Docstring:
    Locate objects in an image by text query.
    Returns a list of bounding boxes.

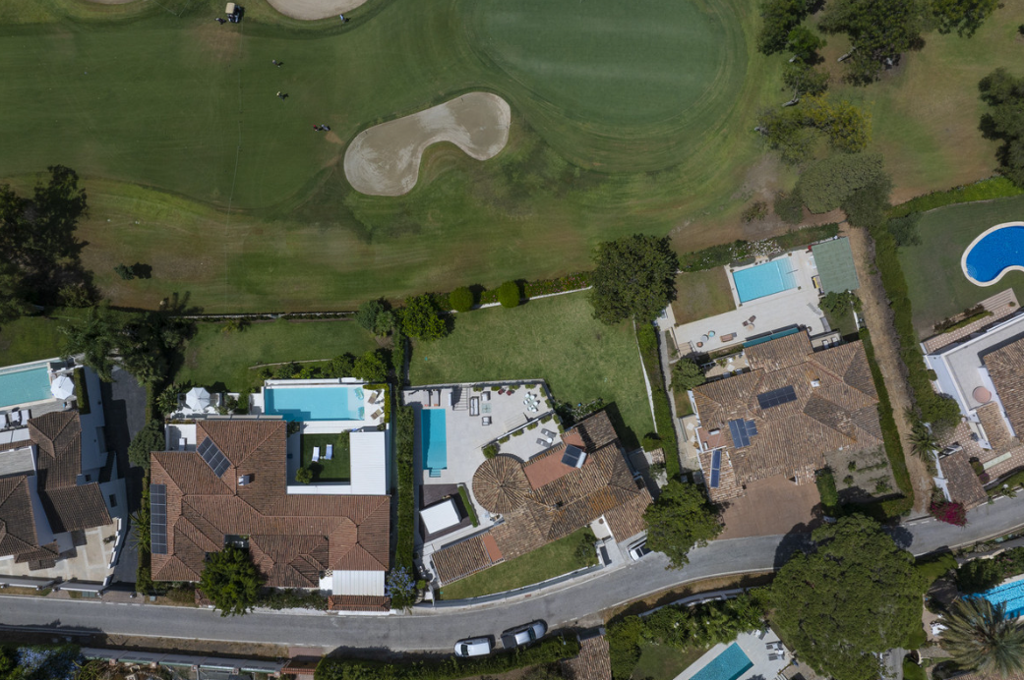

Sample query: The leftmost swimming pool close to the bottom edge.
[673,645,752,680]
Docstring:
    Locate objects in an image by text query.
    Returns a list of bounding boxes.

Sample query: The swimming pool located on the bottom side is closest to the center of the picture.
[421,409,447,478]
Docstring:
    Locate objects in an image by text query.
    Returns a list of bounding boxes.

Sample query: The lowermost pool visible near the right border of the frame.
[959,579,1024,628]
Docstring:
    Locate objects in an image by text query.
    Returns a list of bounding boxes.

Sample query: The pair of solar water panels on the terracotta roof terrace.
[561,444,582,468]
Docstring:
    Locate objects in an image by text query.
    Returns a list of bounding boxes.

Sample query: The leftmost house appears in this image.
[0,412,126,571]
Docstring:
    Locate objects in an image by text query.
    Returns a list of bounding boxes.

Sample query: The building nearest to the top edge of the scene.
[804,237,860,295]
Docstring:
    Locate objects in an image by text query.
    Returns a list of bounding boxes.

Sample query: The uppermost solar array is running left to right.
[757,385,798,410]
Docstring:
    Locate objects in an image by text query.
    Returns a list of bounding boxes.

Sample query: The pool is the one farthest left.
[0,362,58,411]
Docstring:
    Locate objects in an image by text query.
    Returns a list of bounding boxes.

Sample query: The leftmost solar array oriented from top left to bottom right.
[196,437,230,477]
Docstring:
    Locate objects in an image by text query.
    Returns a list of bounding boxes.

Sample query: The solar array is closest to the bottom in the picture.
[150,484,166,554]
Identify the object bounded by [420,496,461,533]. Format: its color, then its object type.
white gazebo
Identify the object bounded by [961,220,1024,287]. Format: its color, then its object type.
blue swimming pool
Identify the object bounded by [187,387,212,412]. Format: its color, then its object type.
white umbrella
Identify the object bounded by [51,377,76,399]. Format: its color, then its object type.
white umbrella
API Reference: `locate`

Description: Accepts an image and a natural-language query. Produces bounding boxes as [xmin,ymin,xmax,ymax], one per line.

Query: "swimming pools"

[0,362,58,411]
[732,257,797,302]
[673,645,752,680]
[264,388,364,421]
[959,579,1024,628]
[961,220,1024,287]
[421,409,447,478]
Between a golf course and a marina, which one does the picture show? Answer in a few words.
golf course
